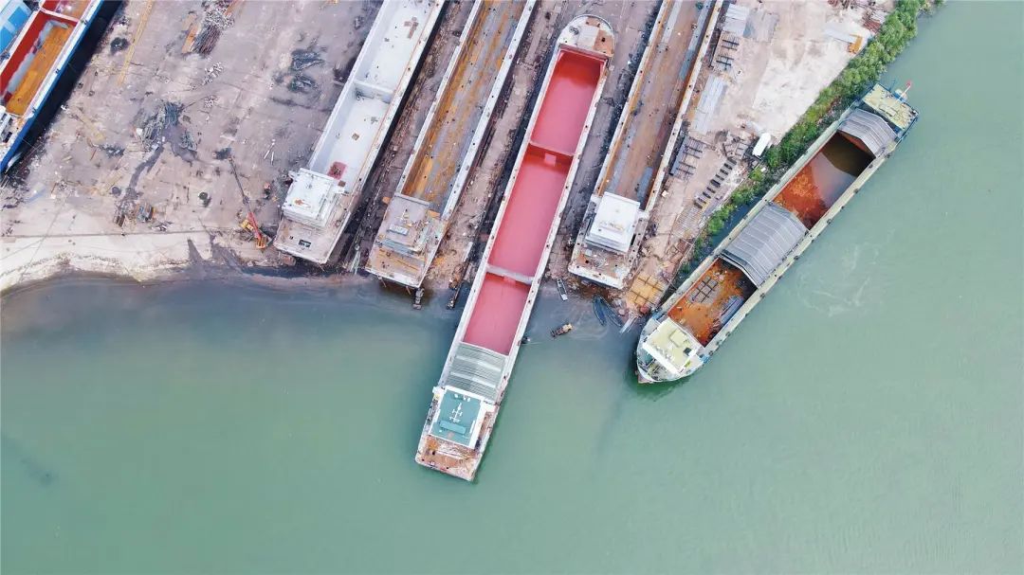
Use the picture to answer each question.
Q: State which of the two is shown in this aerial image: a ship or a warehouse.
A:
ship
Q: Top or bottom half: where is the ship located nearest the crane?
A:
top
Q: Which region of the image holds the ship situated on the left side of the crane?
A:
top left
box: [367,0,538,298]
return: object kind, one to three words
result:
ship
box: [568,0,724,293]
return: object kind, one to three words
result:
ship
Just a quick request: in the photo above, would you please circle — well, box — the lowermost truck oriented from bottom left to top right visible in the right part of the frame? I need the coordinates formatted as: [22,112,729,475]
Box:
[751,131,773,157]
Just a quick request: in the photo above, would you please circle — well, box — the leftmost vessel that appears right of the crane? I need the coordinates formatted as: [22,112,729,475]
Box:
[274,0,450,268]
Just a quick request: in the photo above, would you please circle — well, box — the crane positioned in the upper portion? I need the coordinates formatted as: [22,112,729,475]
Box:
[228,157,271,248]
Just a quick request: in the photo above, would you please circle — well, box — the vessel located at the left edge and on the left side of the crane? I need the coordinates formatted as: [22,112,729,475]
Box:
[0,0,126,196]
